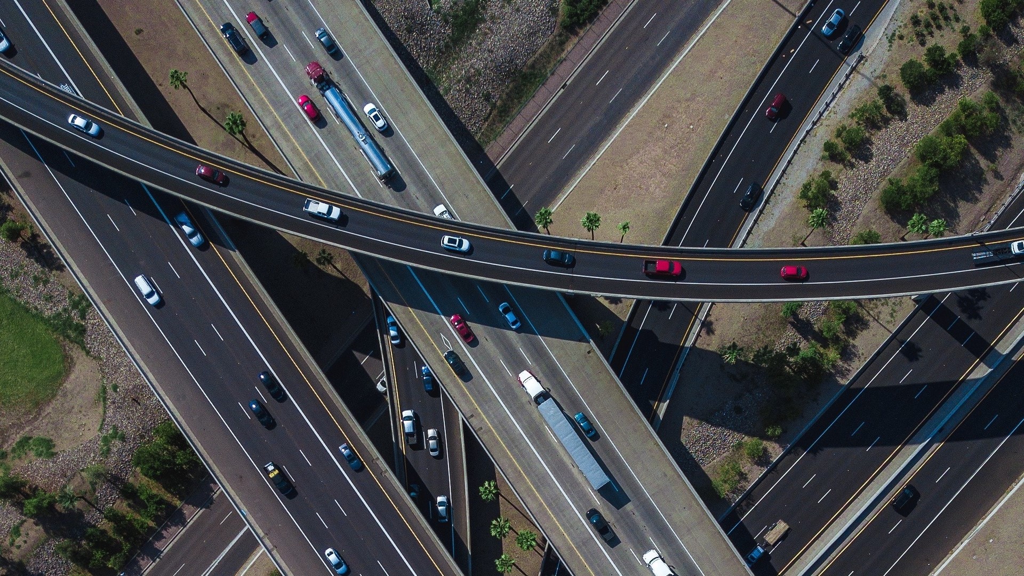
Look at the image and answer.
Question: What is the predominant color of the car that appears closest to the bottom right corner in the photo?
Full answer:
In this view, the car that appears closest to the bottom right corner is black.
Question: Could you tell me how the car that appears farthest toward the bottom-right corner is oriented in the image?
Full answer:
The car that appears farthest toward the bottom-right corner is oriented diagonally.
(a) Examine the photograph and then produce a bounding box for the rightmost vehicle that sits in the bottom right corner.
[891,487,915,512]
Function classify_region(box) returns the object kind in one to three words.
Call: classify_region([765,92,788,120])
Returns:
car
